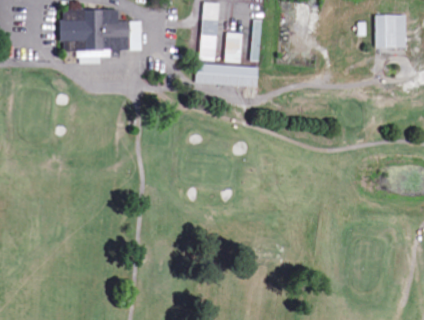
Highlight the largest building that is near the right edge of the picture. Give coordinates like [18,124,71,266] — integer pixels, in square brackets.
[374,14,406,50]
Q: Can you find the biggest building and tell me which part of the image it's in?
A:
top left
